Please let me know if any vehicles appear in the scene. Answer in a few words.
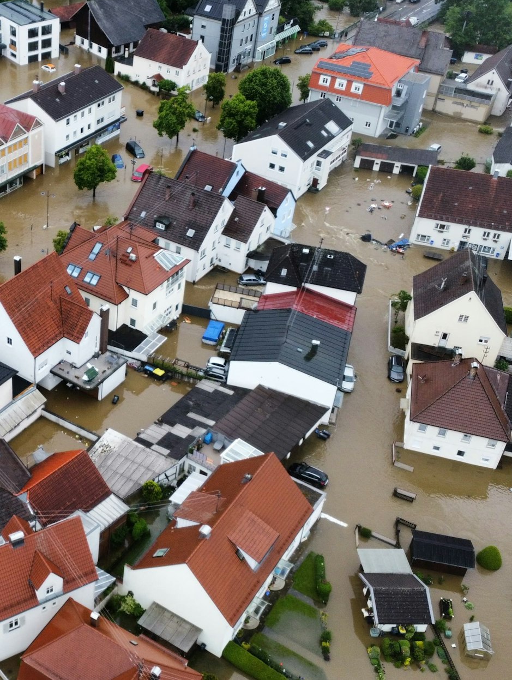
Yes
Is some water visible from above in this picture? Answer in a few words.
Yes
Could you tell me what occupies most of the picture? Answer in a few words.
buildings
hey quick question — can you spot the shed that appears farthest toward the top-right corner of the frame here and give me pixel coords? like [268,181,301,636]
[462,36,498,65]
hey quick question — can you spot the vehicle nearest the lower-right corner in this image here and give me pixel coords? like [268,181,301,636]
[287,462,333,493]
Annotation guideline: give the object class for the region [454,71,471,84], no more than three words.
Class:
vehicle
